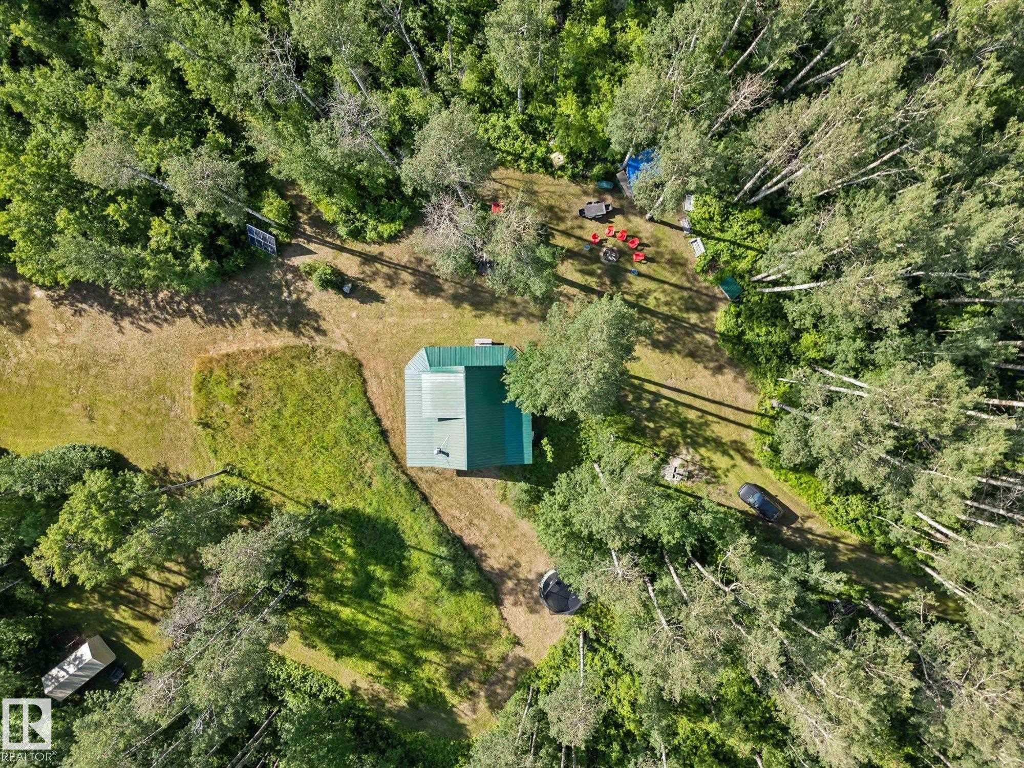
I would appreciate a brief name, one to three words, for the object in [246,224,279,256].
solar panel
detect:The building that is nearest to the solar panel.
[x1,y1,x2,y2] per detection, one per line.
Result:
[405,346,532,470]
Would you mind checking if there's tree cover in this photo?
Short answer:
Yes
